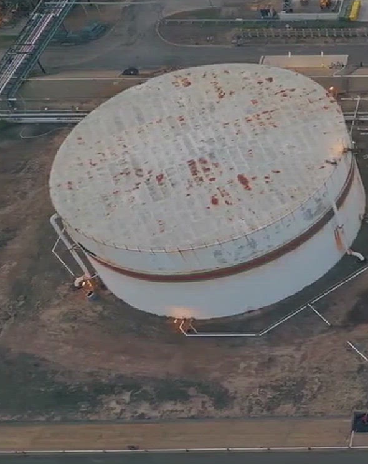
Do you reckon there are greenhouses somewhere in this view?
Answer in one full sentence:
No, no greenhouse can be seen from above.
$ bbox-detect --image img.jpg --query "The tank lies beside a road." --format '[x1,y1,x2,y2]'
[48,60,368,320]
